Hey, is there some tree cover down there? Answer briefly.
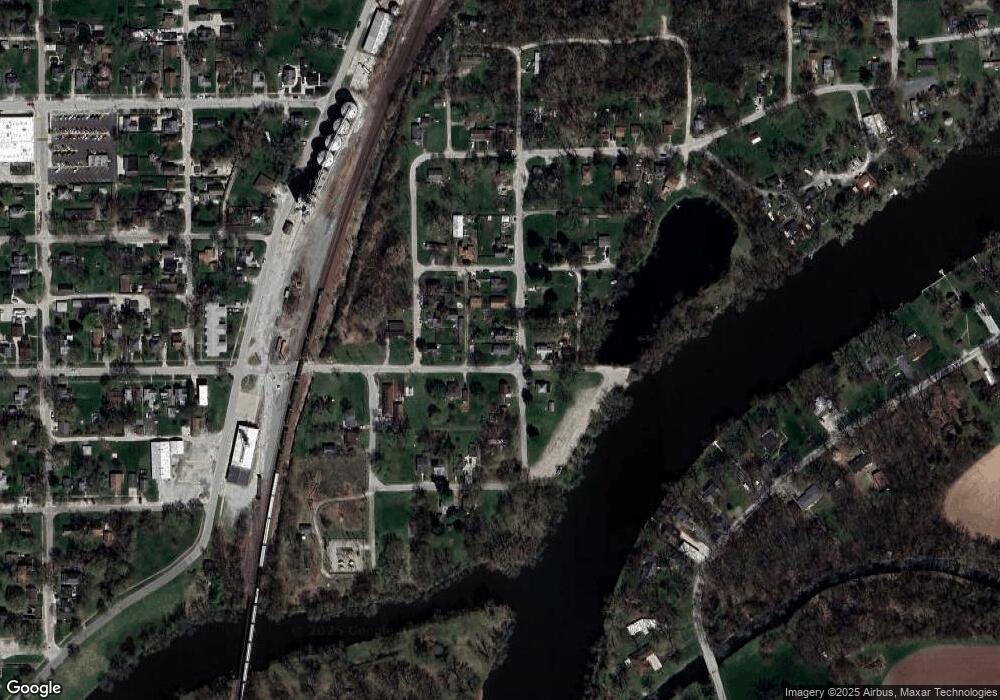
Yes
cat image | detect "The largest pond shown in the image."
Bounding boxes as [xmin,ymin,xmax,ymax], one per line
[600,197,737,363]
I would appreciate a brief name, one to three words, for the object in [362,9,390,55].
building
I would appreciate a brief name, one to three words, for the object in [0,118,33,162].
building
